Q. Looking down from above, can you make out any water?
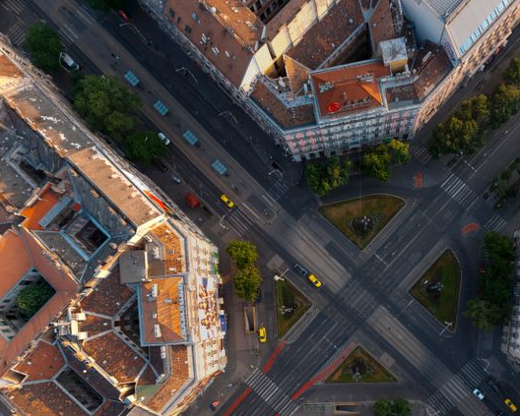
No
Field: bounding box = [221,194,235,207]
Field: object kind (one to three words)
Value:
vehicle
